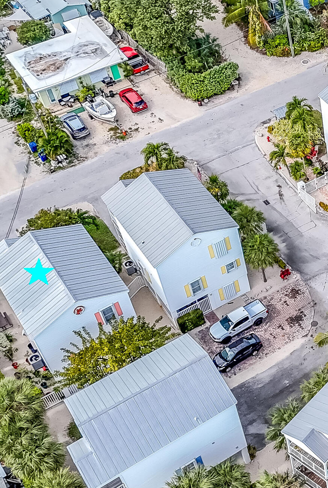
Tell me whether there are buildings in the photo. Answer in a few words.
Yes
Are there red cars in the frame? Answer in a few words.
Yes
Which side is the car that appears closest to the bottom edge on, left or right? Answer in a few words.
right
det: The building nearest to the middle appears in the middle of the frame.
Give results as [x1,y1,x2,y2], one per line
[101,168,250,330]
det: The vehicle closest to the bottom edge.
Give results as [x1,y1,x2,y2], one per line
[207,326,269,369]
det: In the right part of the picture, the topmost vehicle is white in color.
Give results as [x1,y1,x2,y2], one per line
[205,293,272,343]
